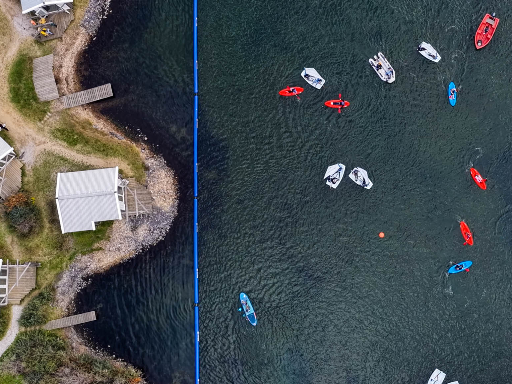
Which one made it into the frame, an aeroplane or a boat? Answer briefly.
boat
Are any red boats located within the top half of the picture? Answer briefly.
Yes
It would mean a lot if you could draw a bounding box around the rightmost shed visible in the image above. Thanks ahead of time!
[56,166,157,234]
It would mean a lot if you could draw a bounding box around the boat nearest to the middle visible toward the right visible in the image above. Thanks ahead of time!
[324,164,345,188]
